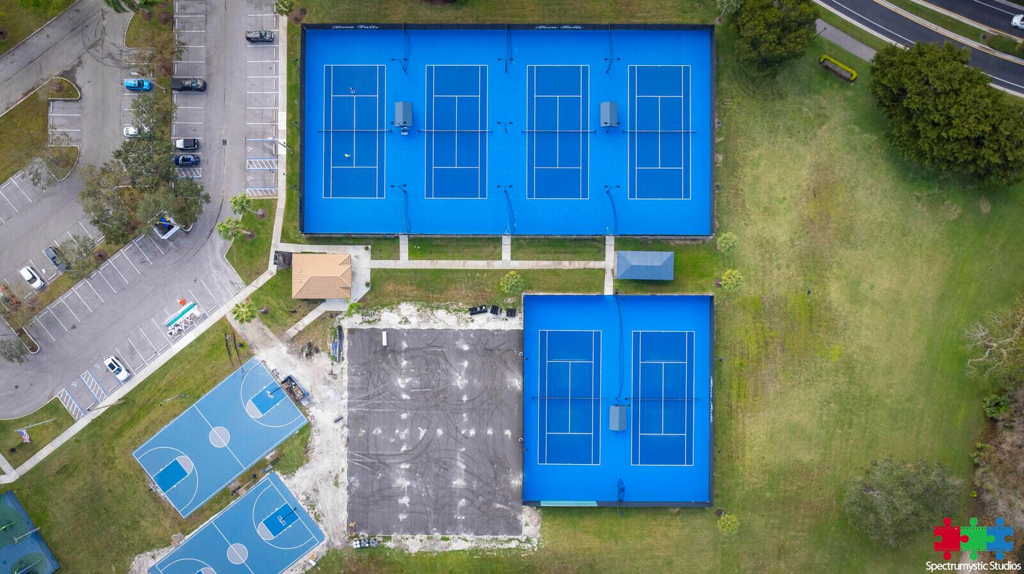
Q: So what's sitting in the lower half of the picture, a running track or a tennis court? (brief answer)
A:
tennis court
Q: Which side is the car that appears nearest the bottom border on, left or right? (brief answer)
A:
left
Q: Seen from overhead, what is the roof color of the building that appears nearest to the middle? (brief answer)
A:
blue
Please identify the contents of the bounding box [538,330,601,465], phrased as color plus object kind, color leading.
blue tennis court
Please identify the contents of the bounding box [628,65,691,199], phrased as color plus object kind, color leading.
blue tennis court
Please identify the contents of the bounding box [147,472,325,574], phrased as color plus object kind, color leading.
blue basketball court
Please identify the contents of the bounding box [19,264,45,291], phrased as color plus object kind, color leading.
white car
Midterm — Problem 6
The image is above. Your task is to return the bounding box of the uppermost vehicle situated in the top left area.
[245,29,275,43]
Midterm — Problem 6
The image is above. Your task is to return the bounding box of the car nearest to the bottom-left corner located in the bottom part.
[104,355,129,381]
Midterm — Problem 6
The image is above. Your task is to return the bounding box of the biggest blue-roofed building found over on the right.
[617,251,674,280]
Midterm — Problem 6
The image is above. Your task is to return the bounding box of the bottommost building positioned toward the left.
[292,254,351,299]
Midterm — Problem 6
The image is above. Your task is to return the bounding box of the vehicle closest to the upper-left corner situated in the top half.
[125,78,153,91]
